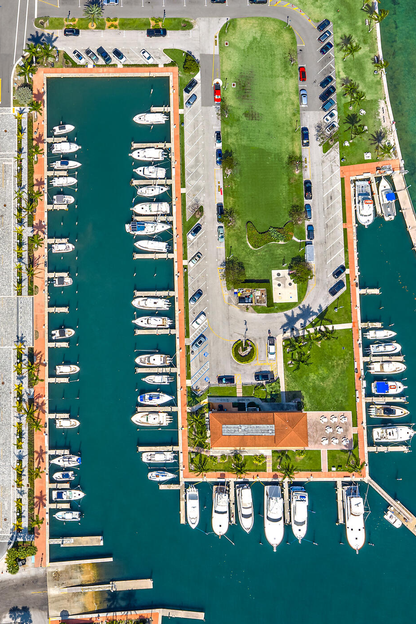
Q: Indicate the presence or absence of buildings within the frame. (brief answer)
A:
Yes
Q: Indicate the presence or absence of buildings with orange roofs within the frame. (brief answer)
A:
Yes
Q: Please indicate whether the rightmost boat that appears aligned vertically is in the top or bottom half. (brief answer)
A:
top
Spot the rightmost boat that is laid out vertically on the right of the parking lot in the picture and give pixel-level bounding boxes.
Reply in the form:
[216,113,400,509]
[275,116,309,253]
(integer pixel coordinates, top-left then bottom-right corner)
[378,175,397,222]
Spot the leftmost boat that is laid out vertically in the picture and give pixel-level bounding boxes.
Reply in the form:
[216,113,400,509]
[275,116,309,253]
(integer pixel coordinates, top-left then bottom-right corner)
[186,485,199,529]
